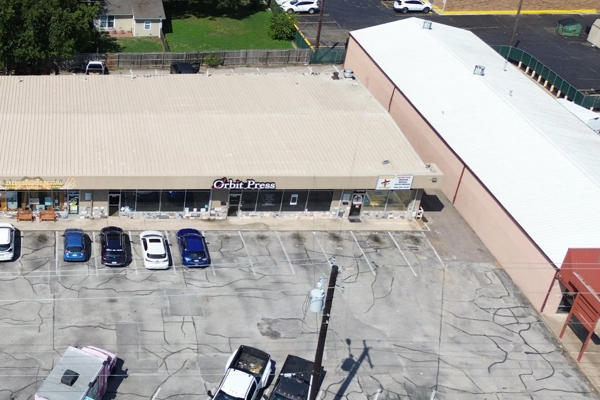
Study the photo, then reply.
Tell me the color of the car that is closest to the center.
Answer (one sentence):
The color of the car that is closest to the center is blue.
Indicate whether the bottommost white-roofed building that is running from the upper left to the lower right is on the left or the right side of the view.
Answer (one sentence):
The bottommost white-roofed building that is running from the upper left to the lower right appears in the right half of the scene.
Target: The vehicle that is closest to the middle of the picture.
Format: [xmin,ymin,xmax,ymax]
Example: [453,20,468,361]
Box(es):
[177,223,210,265]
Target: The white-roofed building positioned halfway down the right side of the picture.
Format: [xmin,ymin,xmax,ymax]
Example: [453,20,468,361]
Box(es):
[341,17,600,334]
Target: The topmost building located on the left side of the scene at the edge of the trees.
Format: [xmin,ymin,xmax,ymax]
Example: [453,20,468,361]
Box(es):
[90,0,167,35]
